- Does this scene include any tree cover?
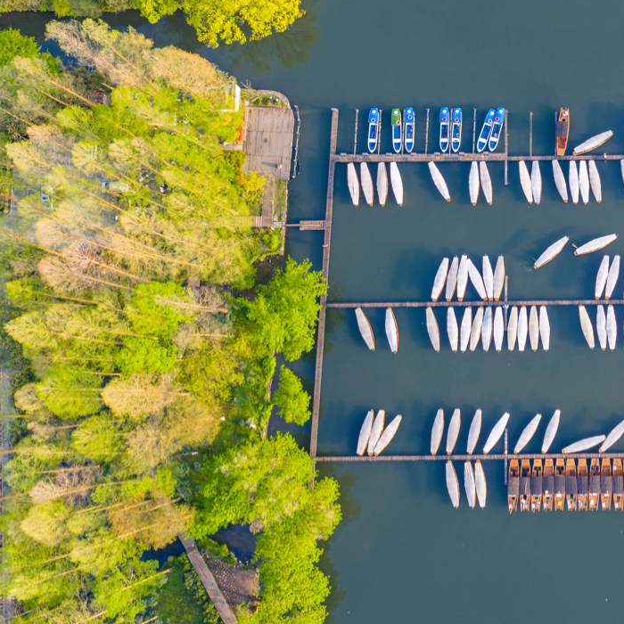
Yes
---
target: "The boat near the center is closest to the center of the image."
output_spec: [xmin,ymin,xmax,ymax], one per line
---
[357,300,377,350]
